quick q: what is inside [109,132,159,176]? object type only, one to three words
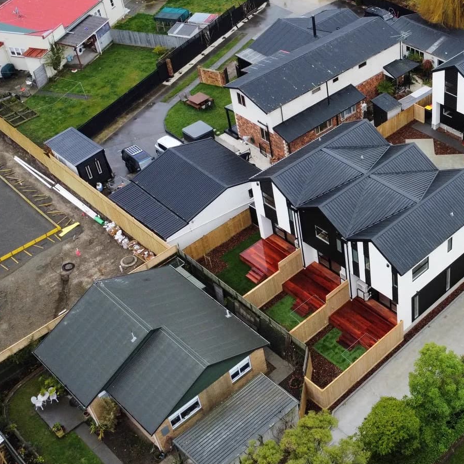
car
